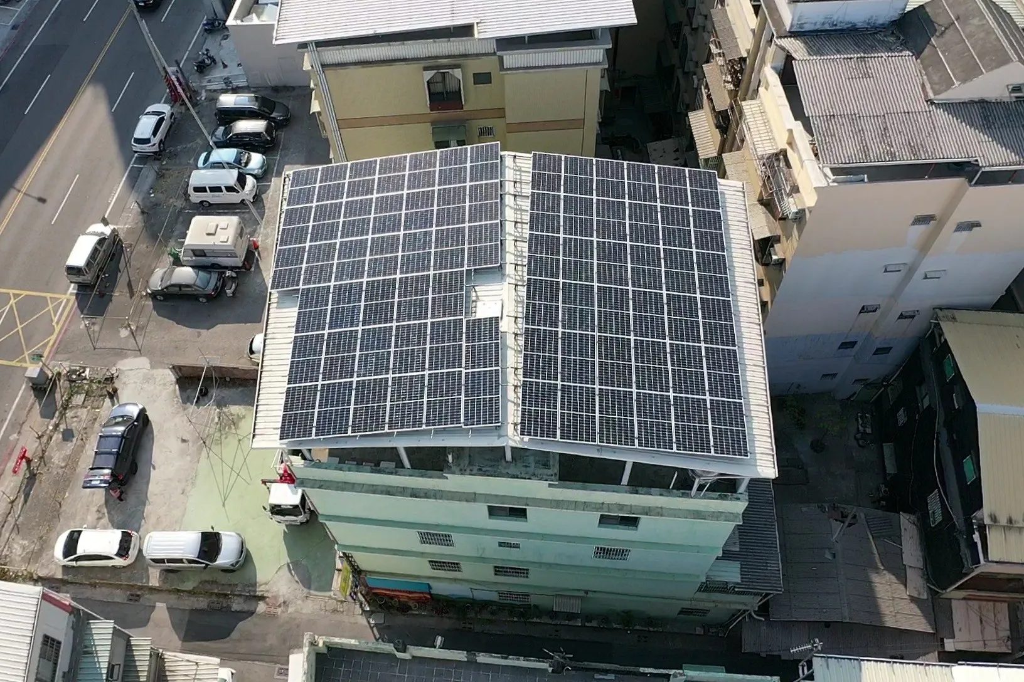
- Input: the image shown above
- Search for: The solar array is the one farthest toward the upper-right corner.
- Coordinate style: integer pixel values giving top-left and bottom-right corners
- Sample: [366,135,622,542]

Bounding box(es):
[515,151,752,457]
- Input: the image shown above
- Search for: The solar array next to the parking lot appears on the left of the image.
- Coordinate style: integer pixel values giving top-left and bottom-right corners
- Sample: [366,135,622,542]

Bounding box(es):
[268,141,505,452]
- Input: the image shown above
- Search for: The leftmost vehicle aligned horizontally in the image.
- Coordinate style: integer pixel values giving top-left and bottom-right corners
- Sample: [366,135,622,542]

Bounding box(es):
[51,528,147,572]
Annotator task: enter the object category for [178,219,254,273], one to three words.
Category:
camper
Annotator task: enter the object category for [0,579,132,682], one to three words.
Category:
building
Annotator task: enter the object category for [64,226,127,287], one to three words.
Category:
car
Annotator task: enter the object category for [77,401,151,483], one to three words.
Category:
car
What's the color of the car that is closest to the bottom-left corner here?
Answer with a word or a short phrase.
white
